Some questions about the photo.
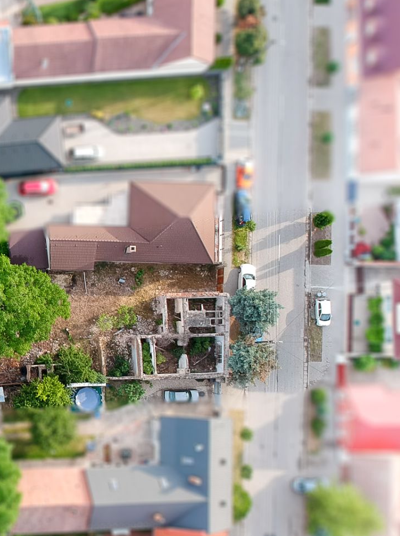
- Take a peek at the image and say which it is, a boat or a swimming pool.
swimming pool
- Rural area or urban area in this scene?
urban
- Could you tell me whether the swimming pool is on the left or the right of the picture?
left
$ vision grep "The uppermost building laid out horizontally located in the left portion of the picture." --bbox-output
[11,0,217,84]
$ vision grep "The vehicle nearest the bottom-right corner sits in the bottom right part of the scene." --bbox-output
[290,477,322,493]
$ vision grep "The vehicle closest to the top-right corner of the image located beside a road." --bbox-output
[235,160,254,193]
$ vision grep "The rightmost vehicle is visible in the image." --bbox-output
[314,297,332,328]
